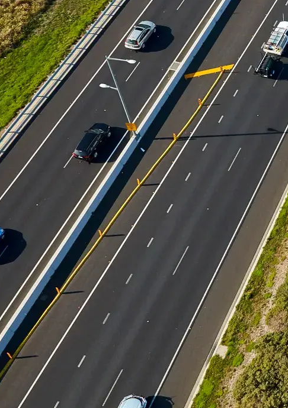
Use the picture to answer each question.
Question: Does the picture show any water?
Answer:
No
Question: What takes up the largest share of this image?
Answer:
paved ground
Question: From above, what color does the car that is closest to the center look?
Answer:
black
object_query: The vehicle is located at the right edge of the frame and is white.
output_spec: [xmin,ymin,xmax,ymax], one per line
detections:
[263,22,288,59]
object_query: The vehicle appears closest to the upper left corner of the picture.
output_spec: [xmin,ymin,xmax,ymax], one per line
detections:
[123,21,156,52]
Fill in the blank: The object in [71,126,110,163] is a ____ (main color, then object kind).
black car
